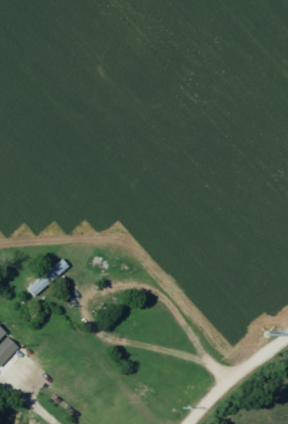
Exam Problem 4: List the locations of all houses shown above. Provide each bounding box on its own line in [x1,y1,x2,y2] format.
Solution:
[0,336,20,366]
[27,258,70,297]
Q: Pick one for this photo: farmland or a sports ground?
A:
farmland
